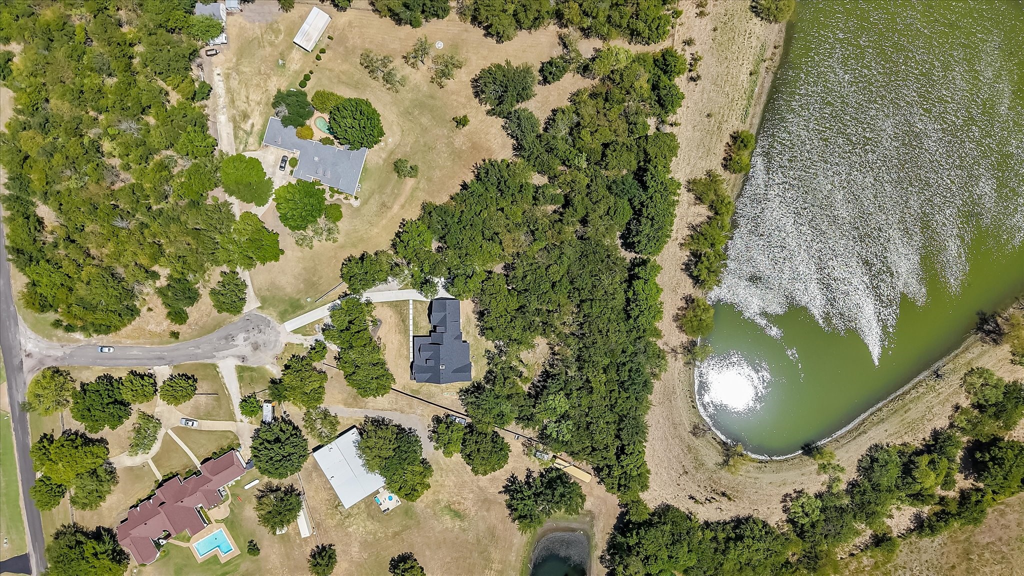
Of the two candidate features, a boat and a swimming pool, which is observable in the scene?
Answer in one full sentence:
Looking from above, you can make out a swimming pool.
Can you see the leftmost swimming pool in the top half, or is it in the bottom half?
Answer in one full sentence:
It is in the bottom half that the leftmost swimming pool appears.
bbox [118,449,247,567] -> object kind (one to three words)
house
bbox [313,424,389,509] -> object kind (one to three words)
building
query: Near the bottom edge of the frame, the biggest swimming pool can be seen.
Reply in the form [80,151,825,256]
[192,528,235,560]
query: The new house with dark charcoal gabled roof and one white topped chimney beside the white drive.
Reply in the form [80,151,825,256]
[411,300,471,384]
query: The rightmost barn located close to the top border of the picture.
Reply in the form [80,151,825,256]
[292,6,333,55]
